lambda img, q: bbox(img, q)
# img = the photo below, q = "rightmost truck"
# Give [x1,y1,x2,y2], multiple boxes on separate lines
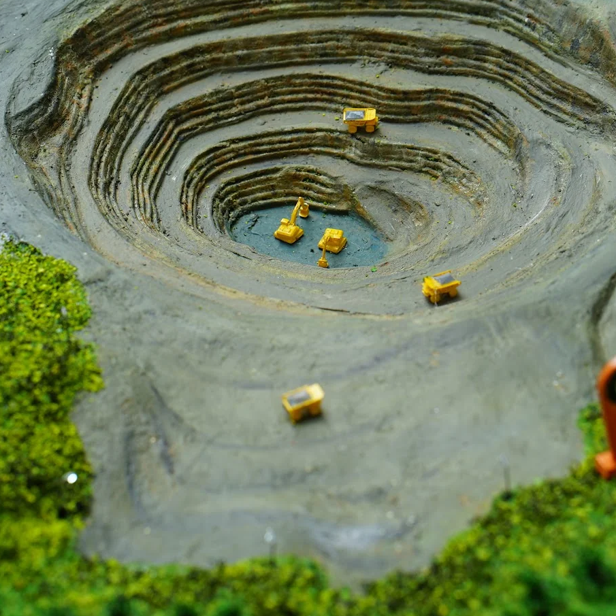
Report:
[421,269,459,301]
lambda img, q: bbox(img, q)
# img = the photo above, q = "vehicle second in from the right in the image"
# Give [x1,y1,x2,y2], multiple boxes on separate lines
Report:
[344,106,377,132]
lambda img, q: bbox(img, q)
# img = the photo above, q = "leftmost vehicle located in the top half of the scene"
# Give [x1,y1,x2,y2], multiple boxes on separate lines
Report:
[273,202,309,246]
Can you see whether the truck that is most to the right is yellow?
Yes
